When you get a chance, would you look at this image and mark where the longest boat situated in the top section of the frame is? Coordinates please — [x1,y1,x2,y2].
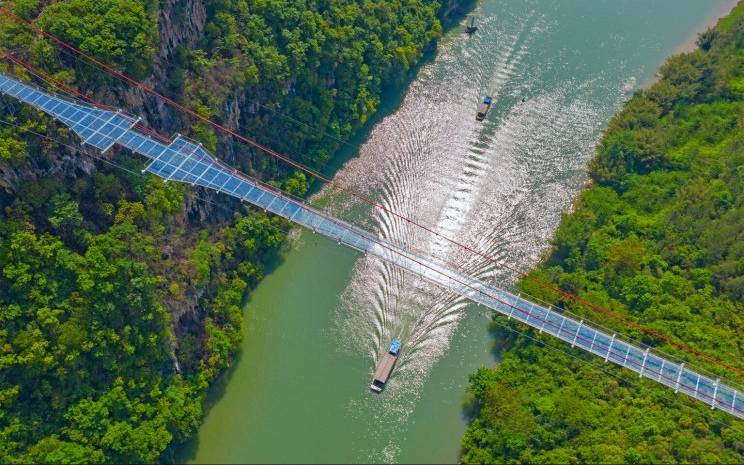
[477,95,490,120]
